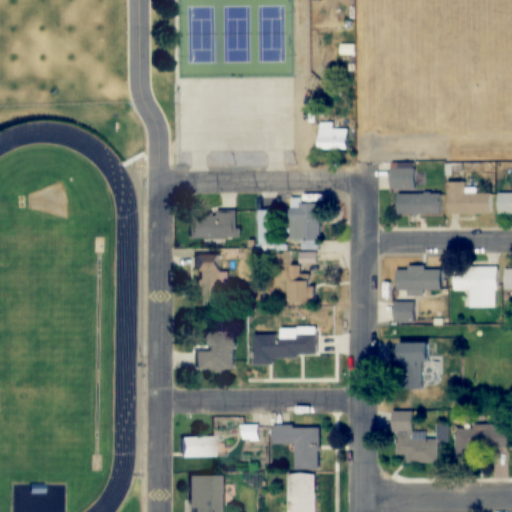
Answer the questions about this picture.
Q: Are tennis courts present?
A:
Yes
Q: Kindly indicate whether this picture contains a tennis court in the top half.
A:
Yes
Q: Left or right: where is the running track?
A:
left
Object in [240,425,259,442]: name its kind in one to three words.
shed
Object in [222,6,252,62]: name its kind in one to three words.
tennis court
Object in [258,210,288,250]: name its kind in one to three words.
house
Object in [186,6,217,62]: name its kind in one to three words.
tennis court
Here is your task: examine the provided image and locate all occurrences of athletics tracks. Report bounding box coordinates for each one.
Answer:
[0,120,139,512]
